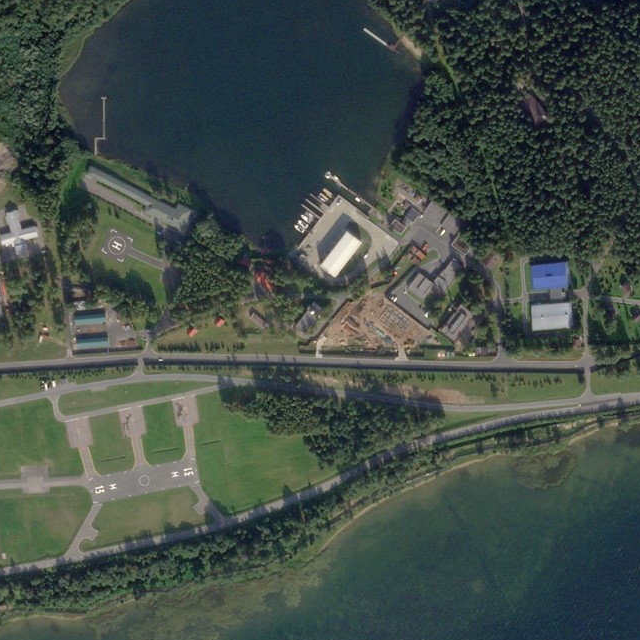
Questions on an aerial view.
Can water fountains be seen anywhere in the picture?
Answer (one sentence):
No, no water fountain is visible in the scene.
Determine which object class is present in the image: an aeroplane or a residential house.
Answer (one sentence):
The one in the frame is a residential house.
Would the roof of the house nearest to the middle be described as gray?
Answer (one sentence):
Yes, the roof of the house nearest to the middle is indeed gray.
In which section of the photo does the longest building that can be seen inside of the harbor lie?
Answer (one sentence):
You can find the longest building that can be seen inside of the harbor in the center area of the picture.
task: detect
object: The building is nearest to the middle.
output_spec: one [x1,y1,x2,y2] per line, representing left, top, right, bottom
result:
[296,301,323,333]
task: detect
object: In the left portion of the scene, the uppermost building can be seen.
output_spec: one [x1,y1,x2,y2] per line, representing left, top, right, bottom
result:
[85,166,193,231]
